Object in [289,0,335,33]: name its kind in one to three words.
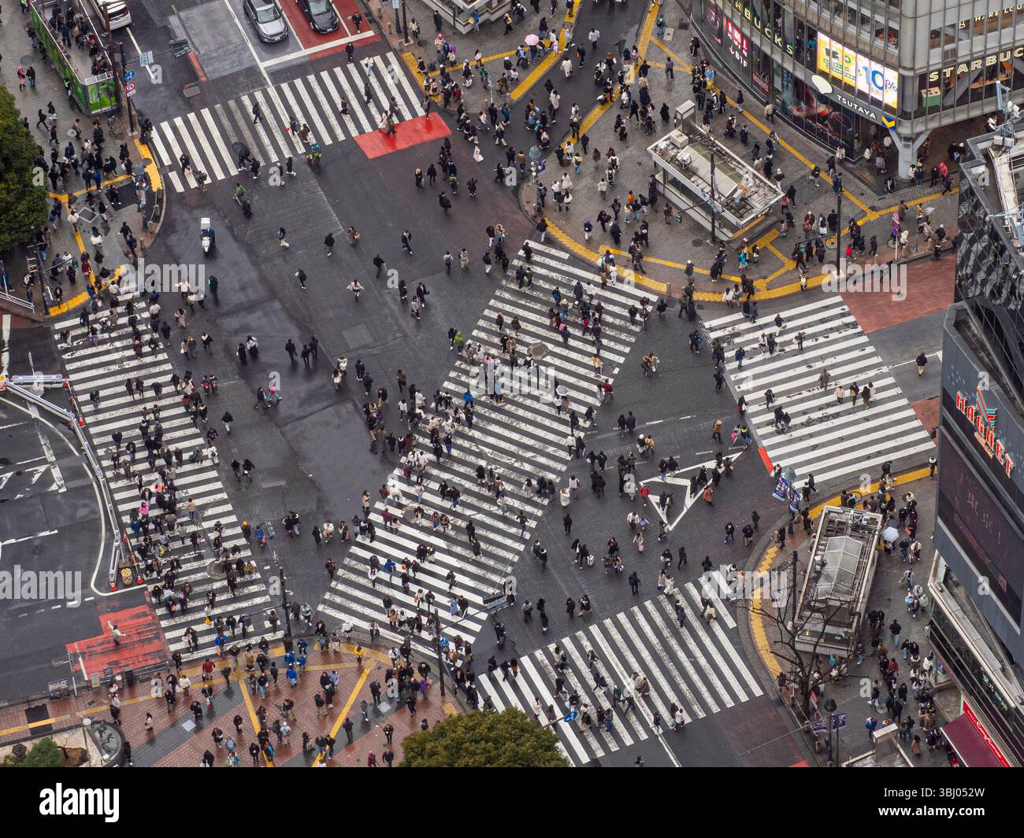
car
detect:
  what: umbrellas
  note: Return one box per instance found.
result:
[882,515,900,528]
[521,33,540,47]
[553,385,570,397]
[880,527,901,549]
[64,128,79,138]
[230,141,249,163]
